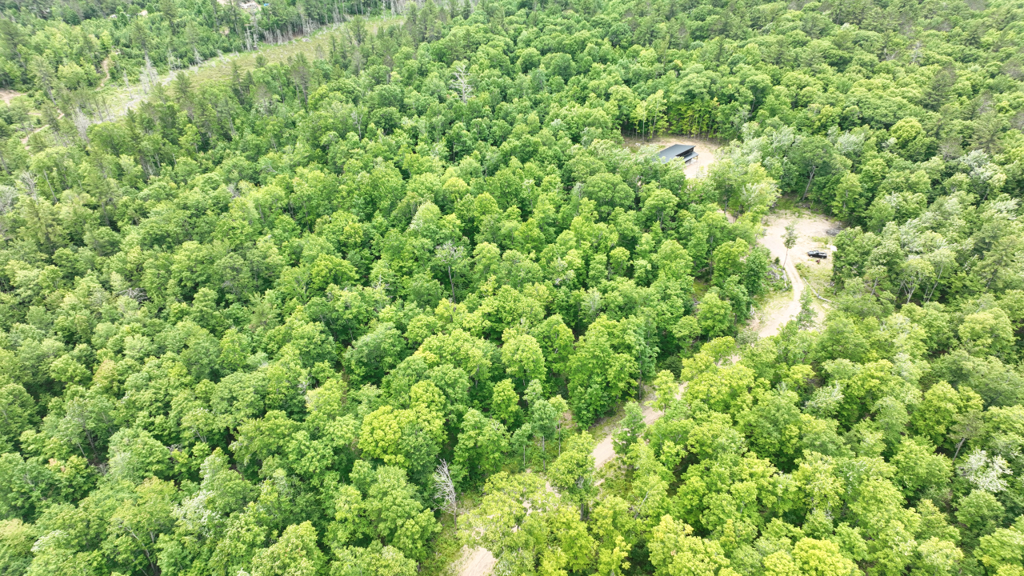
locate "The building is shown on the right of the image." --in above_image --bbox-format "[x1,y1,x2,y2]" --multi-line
[644,143,700,167]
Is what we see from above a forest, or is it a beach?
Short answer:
forest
